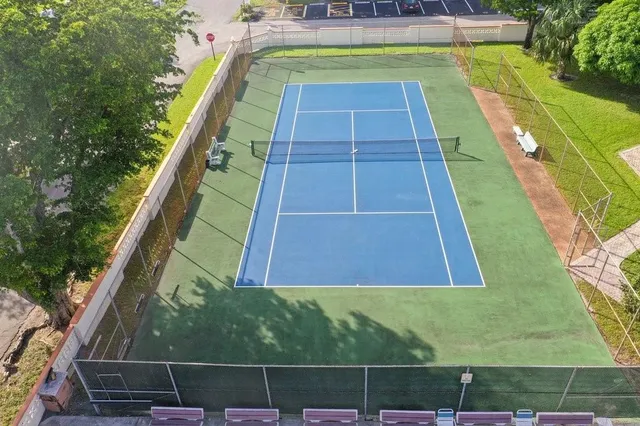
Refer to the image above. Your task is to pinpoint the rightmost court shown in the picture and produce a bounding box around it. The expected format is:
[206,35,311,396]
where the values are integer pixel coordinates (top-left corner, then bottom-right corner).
[124,54,615,367]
